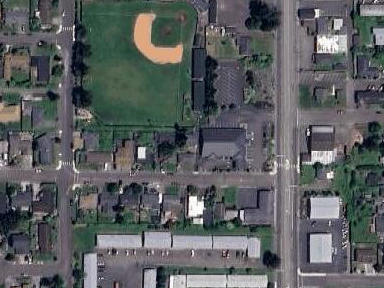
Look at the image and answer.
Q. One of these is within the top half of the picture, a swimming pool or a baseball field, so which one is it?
baseball field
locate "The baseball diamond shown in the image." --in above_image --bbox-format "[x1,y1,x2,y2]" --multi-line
[82,1,197,126]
